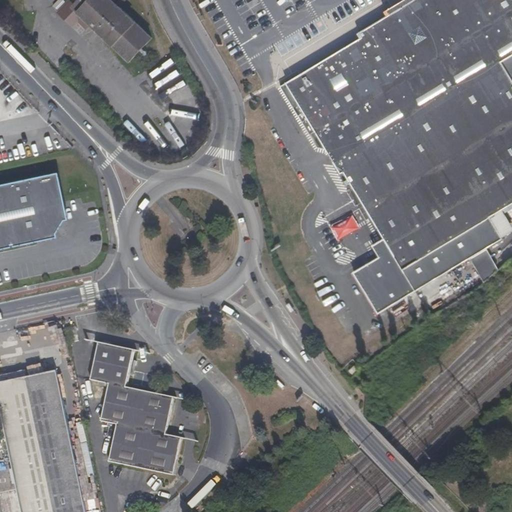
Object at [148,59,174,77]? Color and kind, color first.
white vehicle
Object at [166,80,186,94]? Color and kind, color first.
white vehicle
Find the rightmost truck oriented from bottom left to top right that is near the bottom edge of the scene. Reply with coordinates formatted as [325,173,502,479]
[188,476,220,509]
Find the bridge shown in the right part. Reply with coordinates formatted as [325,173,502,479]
[342,411,458,512]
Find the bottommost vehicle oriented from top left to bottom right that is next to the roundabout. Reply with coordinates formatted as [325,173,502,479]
[221,304,240,319]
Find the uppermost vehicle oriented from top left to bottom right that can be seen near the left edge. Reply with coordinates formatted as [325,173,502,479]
[2,40,36,73]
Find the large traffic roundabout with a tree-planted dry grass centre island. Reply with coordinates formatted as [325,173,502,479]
[122,170,256,306]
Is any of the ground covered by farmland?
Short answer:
No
